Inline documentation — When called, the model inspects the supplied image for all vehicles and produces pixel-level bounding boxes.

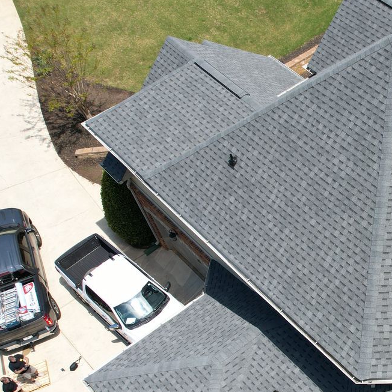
[0,208,68,369]
[54,235,180,346]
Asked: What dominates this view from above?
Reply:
buildings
